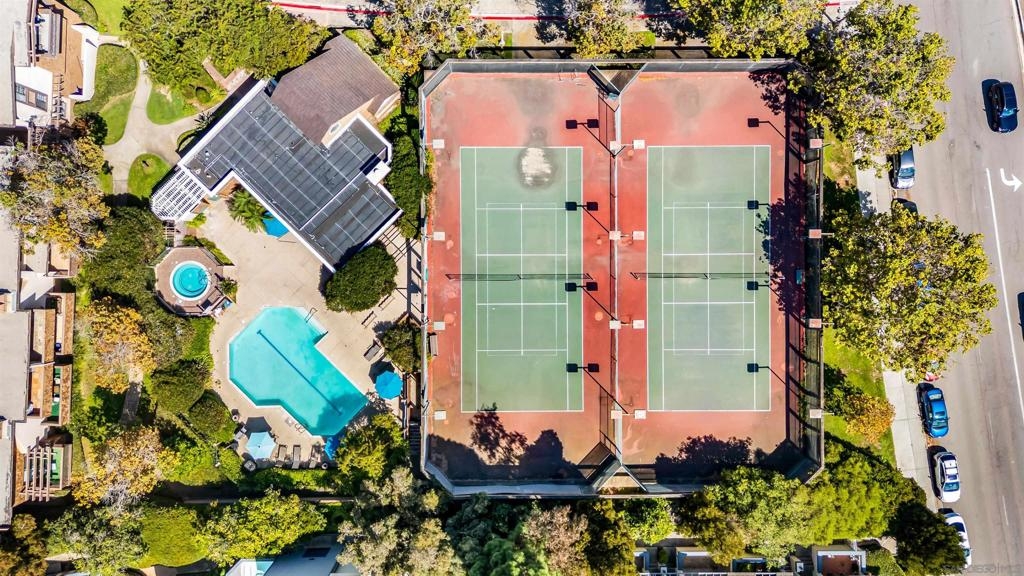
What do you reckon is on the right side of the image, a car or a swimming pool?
car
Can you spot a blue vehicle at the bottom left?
No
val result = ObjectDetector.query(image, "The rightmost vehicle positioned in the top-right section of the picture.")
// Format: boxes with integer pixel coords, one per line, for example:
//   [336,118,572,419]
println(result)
[986,80,1018,134]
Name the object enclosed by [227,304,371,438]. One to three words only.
swimming pool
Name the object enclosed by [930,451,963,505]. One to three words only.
car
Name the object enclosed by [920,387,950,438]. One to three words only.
car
